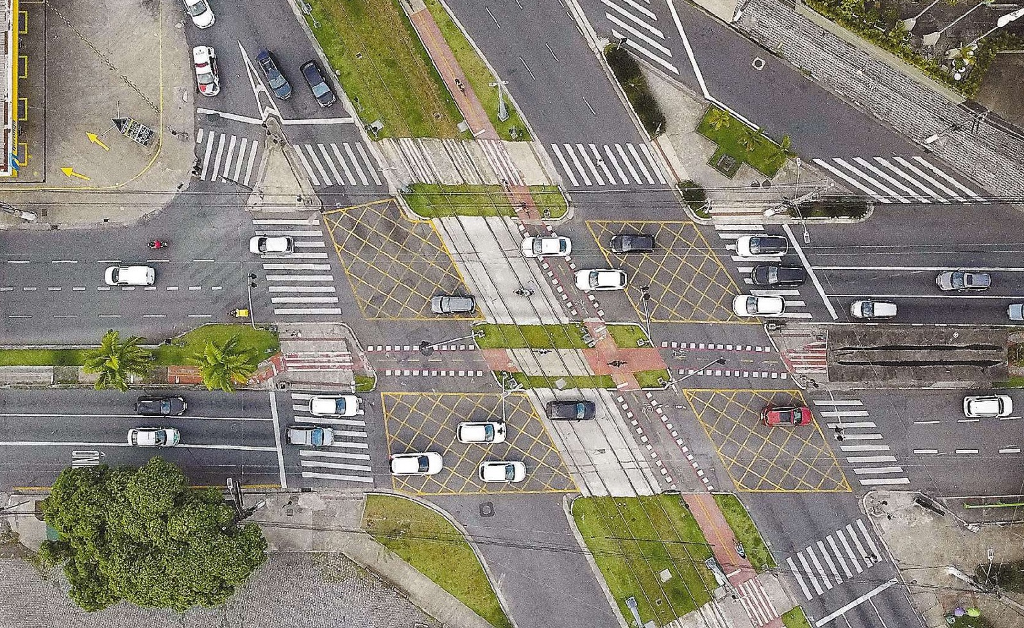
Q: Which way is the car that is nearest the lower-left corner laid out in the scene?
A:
from left to right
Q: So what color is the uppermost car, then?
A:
white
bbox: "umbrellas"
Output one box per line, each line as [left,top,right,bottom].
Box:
[957,602,980,618]
[943,601,964,618]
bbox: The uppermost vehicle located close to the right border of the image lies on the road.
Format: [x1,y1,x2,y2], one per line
[934,268,993,292]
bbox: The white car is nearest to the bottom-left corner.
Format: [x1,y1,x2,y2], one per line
[127,427,181,449]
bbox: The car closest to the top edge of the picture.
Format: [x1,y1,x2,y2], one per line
[186,0,217,31]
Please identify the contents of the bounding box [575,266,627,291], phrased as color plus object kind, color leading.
white car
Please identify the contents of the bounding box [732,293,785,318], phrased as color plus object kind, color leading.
white car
